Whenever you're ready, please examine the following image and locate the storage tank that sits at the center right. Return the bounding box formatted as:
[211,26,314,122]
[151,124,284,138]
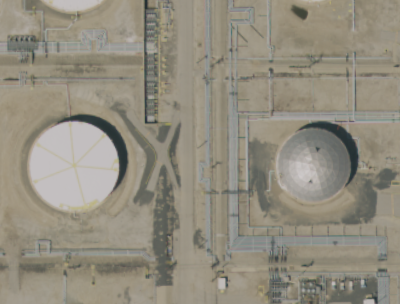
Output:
[276,127,352,204]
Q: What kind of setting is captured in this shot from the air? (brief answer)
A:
industrial area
